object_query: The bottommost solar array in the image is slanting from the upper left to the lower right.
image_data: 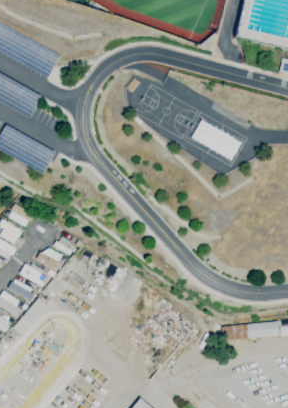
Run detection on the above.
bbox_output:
[0,124,55,173]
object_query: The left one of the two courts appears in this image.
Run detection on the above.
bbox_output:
[136,85,198,140]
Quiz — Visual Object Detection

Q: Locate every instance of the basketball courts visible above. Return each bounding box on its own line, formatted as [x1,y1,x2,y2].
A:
[136,85,198,140]
[186,112,247,166]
